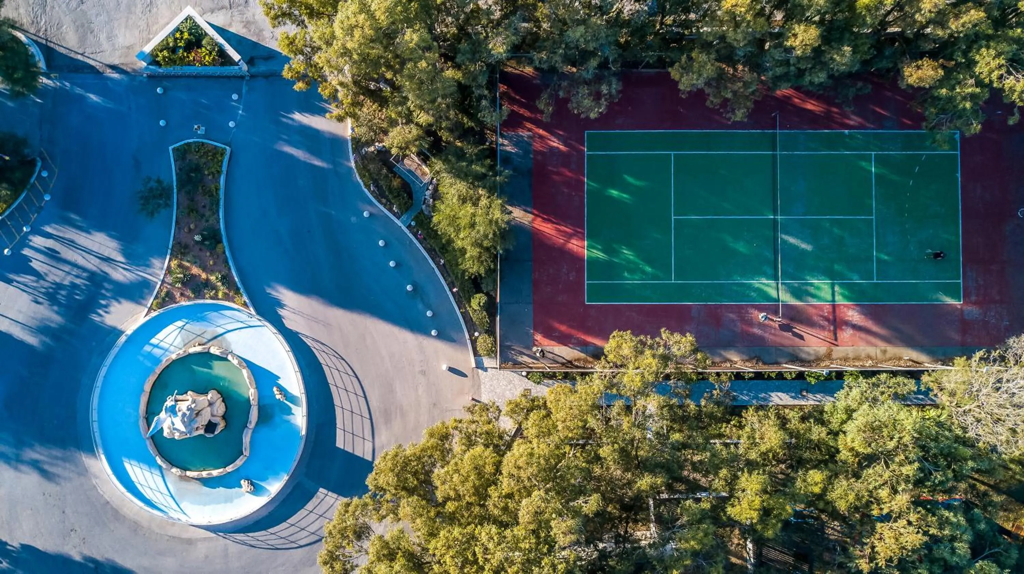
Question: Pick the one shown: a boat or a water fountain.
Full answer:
Visible in the photo is a water fountain.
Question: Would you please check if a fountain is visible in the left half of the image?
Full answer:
Yes, there is a fountain in the left half of the image.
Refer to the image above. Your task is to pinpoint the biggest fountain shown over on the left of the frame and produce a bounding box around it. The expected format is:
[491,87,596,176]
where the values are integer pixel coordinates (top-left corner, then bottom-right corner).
[86,297,321,533]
